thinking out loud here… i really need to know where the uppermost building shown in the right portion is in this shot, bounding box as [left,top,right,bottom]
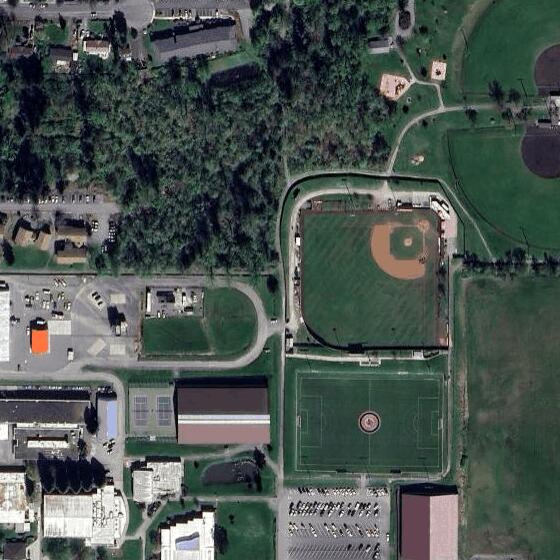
[368,37,390,52]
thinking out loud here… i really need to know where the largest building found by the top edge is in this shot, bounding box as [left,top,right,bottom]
[152,23,237,62]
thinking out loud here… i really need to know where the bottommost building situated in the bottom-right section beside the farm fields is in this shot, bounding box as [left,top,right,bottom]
[403,490,458,560]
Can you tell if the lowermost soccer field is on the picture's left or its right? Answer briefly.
right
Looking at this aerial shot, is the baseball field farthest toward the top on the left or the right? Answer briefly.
right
